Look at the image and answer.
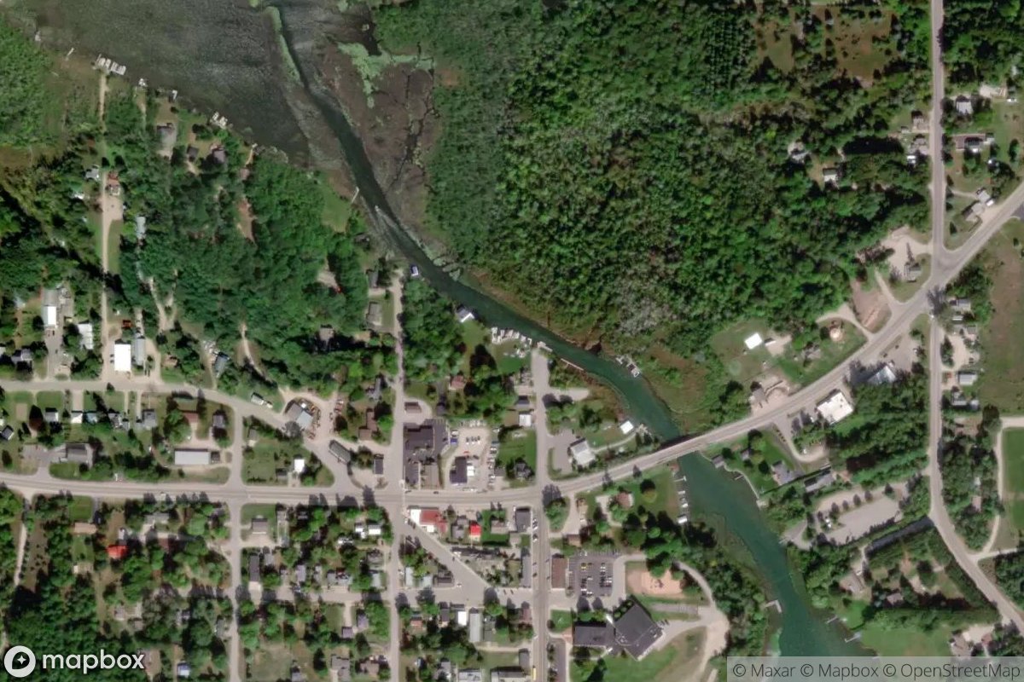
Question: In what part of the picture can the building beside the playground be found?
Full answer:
Look in the bottom portion of the view to spot the building beside the playground.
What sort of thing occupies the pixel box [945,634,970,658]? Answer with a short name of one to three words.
house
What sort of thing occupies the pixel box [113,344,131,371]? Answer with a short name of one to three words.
building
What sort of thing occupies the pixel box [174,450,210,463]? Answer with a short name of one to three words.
barn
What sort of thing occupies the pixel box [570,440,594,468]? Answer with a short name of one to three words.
building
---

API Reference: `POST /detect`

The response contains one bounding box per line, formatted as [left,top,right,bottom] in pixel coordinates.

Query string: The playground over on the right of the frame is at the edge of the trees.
[628,569,684,595]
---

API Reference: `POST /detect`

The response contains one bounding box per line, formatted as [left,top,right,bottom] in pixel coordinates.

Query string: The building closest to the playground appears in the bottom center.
[572,605,661,658]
